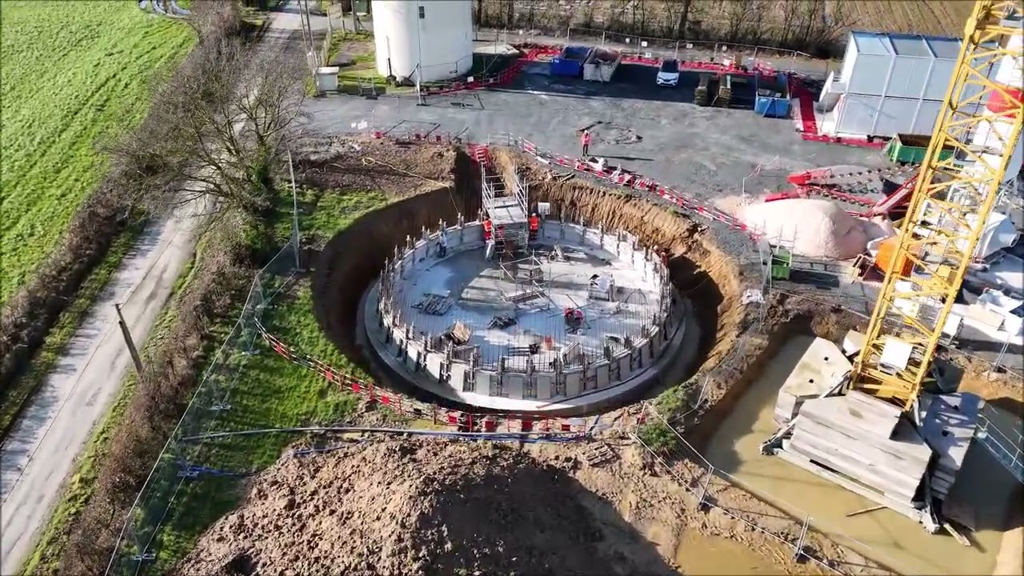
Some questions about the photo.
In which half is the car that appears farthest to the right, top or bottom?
top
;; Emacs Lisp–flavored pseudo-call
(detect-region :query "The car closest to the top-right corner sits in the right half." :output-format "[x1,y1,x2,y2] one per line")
[656,59,682,86]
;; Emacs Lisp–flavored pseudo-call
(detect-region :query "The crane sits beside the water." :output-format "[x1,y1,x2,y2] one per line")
[758,0,1024,525]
